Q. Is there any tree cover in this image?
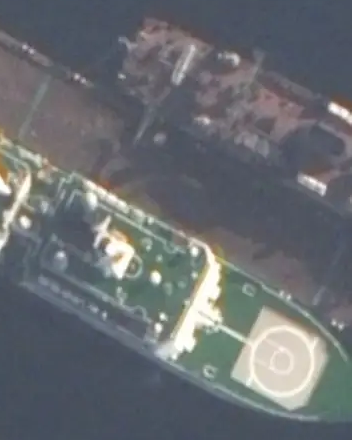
No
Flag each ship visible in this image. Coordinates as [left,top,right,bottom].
[0,132,352,421]
[118,16,352,220]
